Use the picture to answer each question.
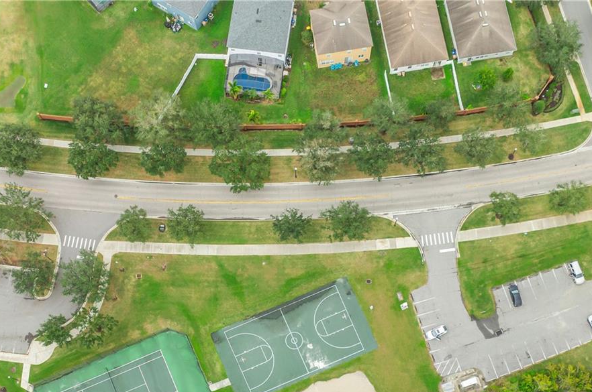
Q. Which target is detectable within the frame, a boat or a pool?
pool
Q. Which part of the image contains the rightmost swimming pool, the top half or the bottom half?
top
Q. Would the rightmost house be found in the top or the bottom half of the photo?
top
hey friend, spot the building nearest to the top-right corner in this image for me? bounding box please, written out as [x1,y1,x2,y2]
[442,0,517,65]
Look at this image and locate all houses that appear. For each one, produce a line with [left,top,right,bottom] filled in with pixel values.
[310,0,373,67]
[91,0,125,17]
[226,0,293,67]
[142,0,220,32]
[442,0,517,65]
[375,0,448,74]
